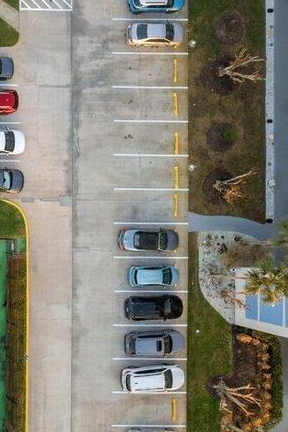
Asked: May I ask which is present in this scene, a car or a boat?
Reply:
car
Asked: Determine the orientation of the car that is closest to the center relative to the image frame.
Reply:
from side to side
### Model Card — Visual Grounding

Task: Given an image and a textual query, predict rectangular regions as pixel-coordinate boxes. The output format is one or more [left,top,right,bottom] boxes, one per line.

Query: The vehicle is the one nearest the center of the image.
[118,226,178,254]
